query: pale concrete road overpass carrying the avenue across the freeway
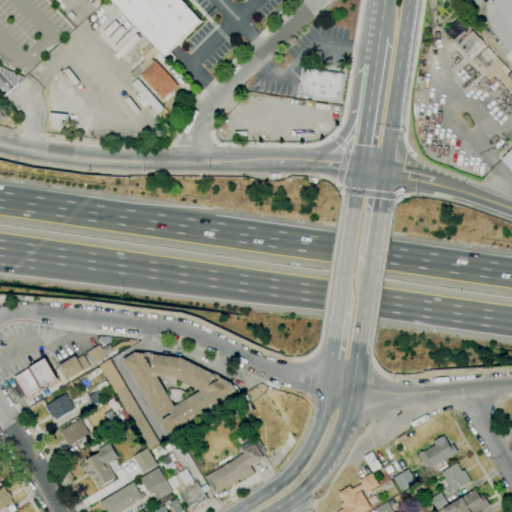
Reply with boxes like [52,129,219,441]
[322,200,395,341]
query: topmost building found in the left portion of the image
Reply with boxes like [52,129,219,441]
[112,0,203,56]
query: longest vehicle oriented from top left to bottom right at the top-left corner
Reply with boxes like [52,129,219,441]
[64,67,82,88]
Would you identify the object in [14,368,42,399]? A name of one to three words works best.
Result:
building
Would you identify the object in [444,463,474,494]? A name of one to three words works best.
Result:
house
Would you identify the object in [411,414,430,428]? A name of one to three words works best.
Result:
vehicle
